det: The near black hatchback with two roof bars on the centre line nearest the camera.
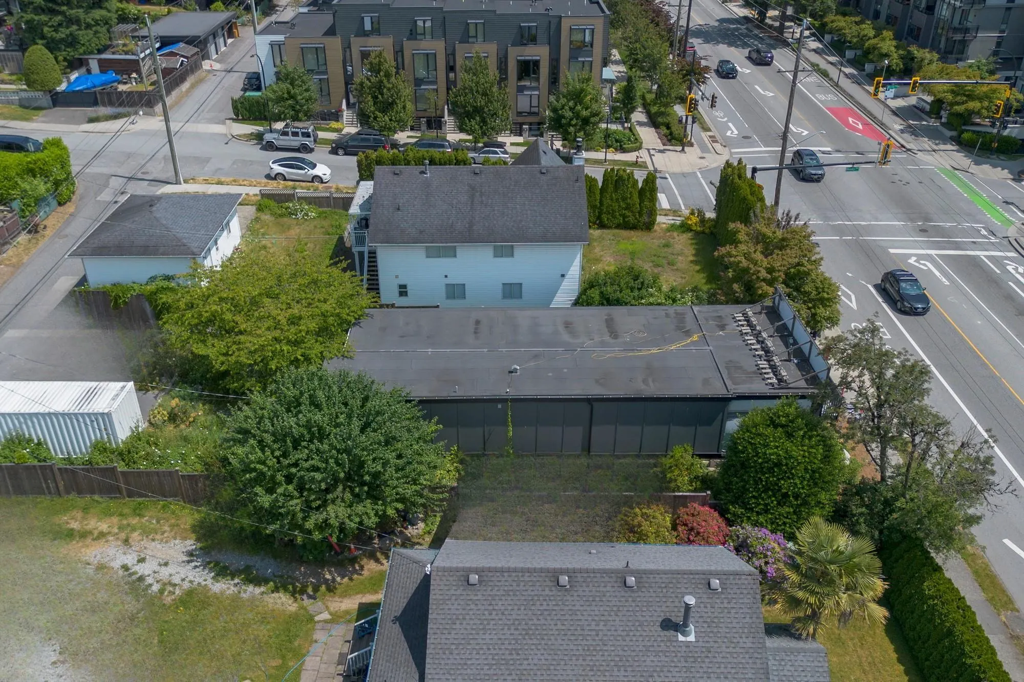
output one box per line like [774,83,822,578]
[882,266,937,312]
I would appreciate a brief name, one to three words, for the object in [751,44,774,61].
car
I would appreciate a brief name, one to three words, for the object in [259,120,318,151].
car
